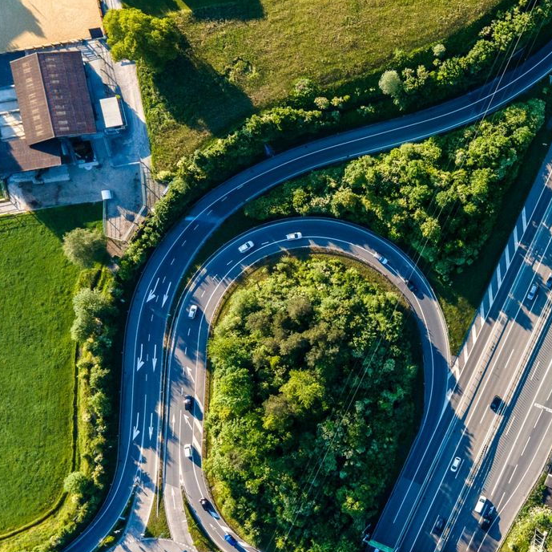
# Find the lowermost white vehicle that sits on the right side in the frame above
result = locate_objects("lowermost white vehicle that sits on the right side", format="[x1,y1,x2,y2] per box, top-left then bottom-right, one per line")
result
[473,496,486,516]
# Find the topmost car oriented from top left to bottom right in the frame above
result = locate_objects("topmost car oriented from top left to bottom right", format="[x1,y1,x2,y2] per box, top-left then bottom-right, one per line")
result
[372,253,387,266]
